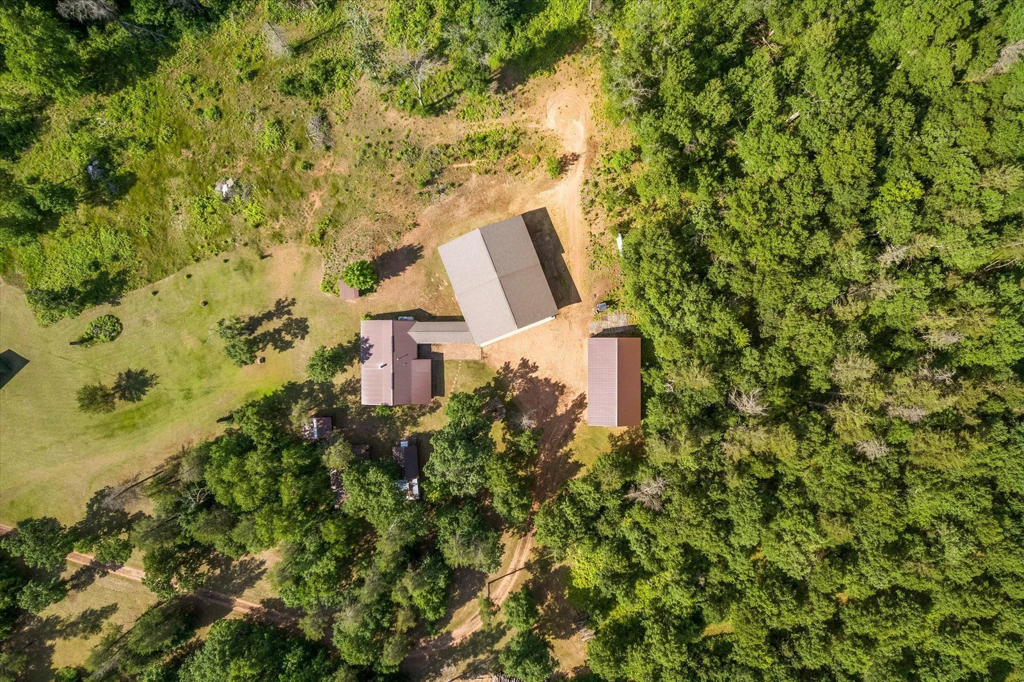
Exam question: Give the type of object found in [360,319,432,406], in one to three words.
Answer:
house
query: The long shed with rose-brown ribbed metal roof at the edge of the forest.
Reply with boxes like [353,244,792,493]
[587,337,641,427]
